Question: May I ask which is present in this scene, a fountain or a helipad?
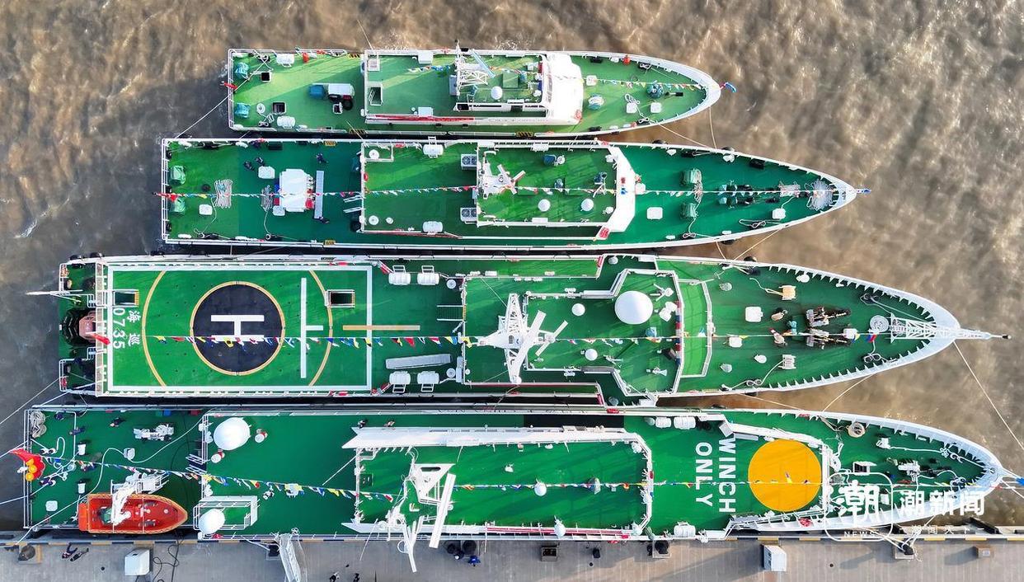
helipad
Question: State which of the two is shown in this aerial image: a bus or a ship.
ship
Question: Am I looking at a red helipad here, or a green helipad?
green helipad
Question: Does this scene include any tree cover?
No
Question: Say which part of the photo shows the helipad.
left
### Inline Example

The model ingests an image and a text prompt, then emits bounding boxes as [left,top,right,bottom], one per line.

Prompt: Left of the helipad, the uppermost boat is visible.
[51,307,94,349]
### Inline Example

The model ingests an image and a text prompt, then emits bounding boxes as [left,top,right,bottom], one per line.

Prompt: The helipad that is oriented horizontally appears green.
[104,264,373,392]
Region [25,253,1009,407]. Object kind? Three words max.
ship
